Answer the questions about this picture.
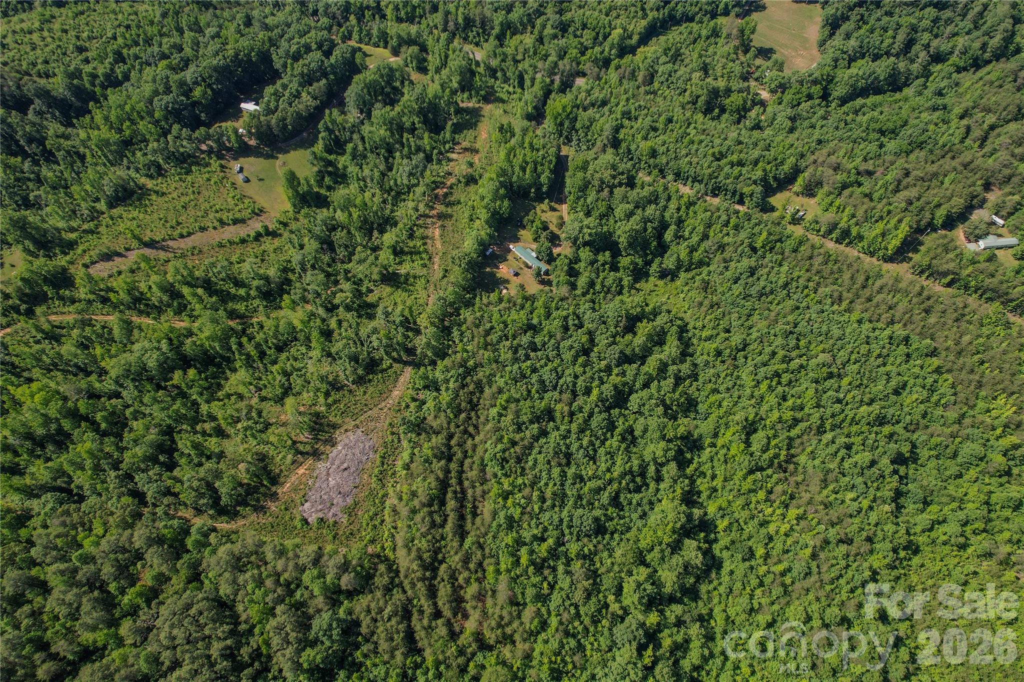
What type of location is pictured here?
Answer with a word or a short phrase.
forest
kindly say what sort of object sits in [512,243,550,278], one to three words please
house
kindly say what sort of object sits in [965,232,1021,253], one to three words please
house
